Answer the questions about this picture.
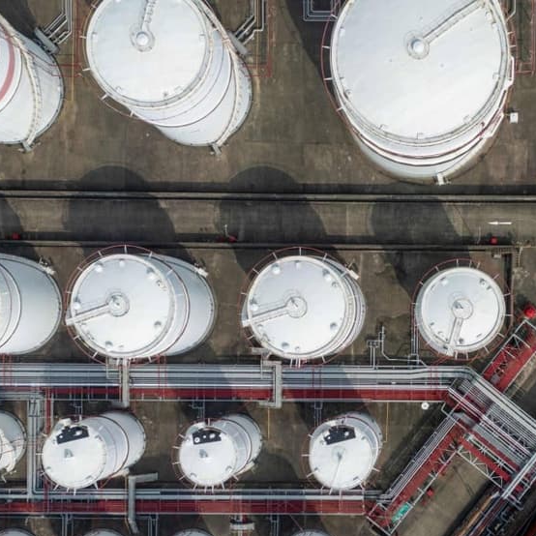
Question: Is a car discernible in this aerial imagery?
No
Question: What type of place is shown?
industrial area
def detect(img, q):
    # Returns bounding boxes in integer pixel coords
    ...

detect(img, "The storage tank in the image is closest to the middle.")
[240,246,365,368]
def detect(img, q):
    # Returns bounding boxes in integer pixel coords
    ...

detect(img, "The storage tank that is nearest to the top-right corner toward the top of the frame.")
[323,0,518,187]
